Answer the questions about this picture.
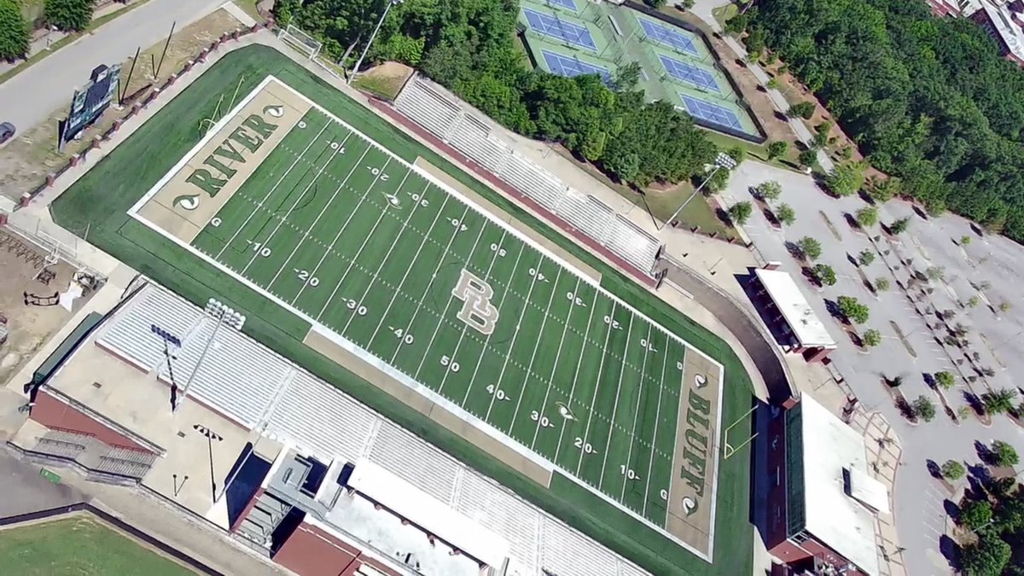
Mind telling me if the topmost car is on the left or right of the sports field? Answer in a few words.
on the left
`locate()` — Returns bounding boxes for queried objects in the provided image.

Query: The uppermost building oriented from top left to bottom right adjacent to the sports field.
[745,270,836,357]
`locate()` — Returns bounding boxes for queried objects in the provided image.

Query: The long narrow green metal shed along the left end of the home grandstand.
[28,307,105,397]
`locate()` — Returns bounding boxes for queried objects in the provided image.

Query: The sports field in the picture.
[51,47,756,576]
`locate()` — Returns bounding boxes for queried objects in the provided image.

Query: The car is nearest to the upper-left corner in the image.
[0,122,20,143]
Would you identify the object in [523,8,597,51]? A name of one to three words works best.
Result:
tennis court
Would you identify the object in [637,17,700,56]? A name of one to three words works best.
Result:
tennis court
